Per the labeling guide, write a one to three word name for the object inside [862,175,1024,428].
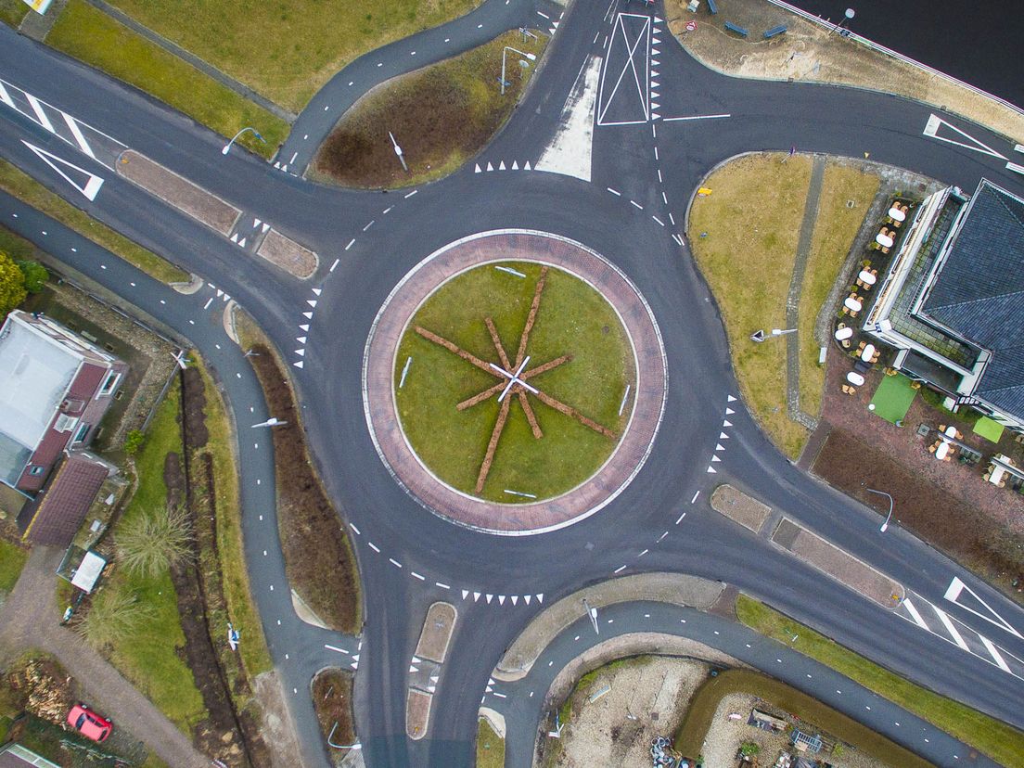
building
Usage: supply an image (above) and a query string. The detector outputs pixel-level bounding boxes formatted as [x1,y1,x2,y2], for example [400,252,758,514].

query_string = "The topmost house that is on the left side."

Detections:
[0,314,128,488]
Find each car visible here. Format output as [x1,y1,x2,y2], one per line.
[68,702,116,741]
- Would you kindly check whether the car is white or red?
red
